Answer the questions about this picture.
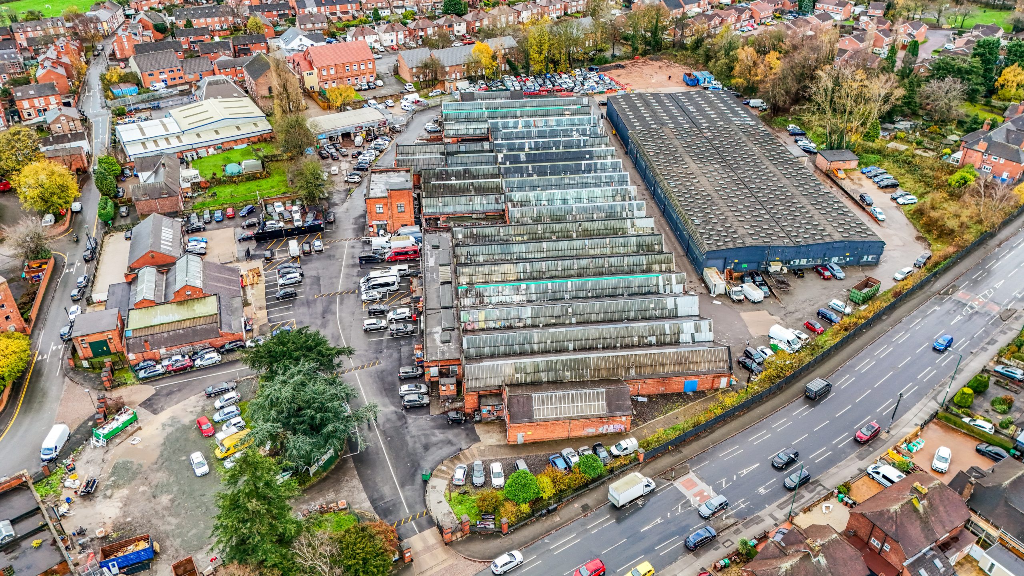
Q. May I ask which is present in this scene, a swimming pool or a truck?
truck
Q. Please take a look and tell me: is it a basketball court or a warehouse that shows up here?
warehouse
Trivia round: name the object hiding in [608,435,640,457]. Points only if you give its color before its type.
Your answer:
white vehicle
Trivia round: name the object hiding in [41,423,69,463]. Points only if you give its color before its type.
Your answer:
white van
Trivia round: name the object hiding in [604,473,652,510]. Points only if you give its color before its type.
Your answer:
white truck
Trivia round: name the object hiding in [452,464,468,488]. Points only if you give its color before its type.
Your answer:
white car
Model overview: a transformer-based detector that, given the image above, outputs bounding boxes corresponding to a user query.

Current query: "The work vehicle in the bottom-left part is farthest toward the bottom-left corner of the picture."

[74,524,89,538]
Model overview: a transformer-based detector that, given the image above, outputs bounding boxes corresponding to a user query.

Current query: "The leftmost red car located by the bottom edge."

[573,556,608,576]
